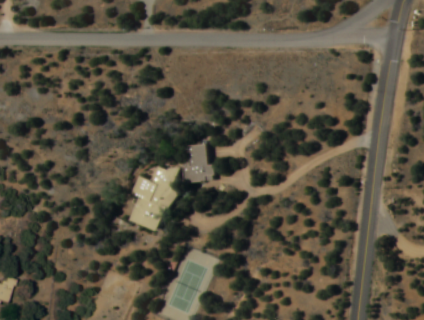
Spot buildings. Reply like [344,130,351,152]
[129,166,180,232]
[184,144,214,182]
[0,279,18,304]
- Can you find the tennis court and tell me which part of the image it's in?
bottom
